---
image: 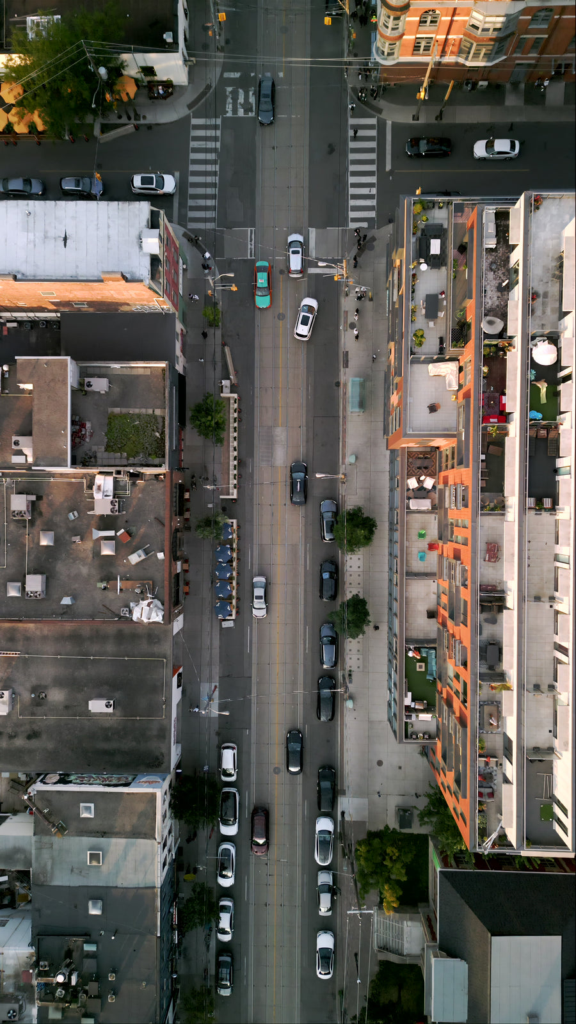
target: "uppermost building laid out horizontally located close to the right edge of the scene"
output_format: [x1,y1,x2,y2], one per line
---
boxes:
[370,0,576,87]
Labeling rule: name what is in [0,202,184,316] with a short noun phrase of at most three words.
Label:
building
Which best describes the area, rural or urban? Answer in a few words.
urban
